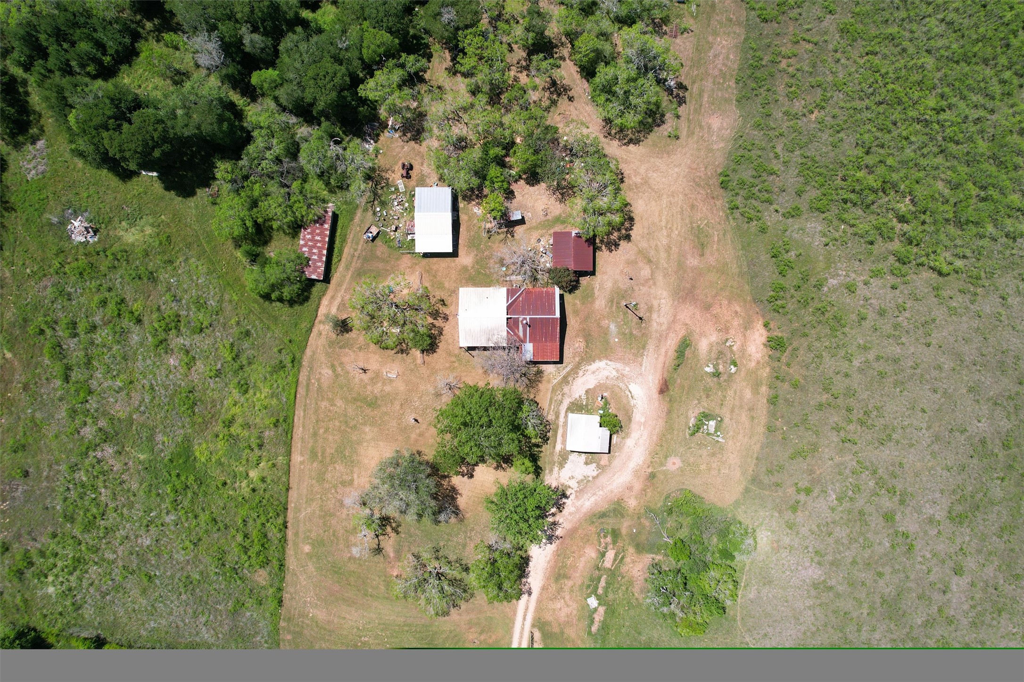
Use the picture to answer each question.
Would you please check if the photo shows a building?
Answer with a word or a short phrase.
Yes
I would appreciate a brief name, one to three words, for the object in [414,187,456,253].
building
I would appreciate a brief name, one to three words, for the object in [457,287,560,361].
house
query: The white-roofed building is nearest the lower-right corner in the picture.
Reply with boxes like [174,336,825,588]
[566,413,610,453]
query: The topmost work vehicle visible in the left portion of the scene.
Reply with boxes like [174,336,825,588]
[399,160,411,178]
